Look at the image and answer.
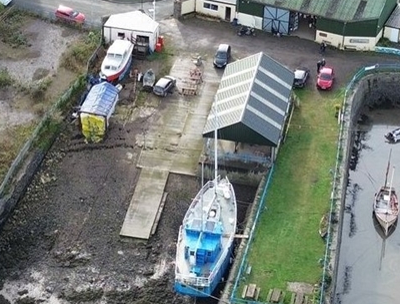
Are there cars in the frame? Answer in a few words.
Yes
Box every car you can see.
[317,66,336,89]
[210,43,234,66]
[52,3,87,23]
[148,72,179,96]
[295,66,310,89]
